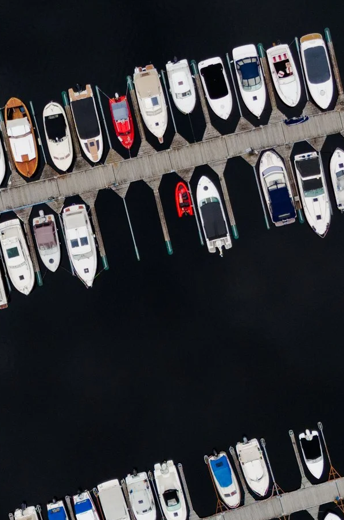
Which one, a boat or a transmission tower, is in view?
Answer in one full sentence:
There is a boat in the scene.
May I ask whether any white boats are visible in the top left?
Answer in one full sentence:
Yes, you'll find a white boat in the top left.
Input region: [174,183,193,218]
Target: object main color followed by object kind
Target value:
red boat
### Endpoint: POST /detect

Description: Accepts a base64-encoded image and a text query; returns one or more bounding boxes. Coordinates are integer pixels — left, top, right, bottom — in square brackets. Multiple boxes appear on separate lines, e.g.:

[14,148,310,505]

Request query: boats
[327,148,344,208]
[15,499,42,520]
[165,55,197,114]
[233,45,267,117]
[126,467,156,520]
[33,209,62,272]
[298,33,334,109]
[5,98,39,177]
[266,42,302,107]
[47,496,71,520]
[292,153,331,235]
[236,433,271,497]
[44,103,75,170]
[197,57,233,119]
[260,152,297,227]
[196,176,230,255]
[70,83,104,162]
[71,488,102,520]
[154,459,186,520]
[62,207,99,288]
[133,65,169,143]
[208,447,241,509]
[299,428,326,480]
[174,183,193,218]
[0,218,34,294]
[97,480,132,520]
[108,93,134,149]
